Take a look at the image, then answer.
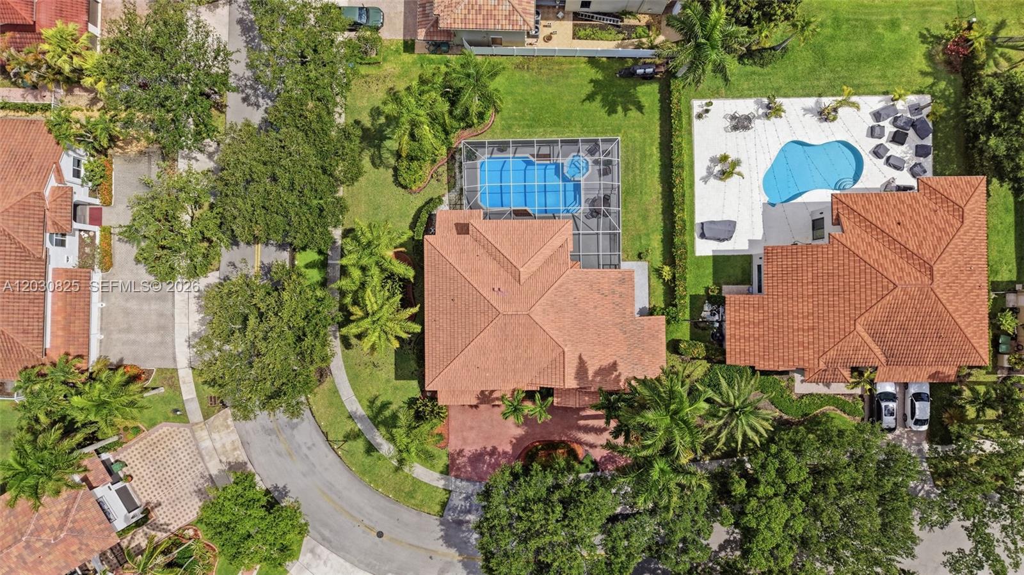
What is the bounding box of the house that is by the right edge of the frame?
[721,175,990,384]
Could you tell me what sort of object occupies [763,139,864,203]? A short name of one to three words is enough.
swimming pool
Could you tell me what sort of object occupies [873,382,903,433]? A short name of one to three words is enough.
car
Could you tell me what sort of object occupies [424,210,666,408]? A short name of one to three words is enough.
house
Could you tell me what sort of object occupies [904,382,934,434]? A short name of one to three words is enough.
car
